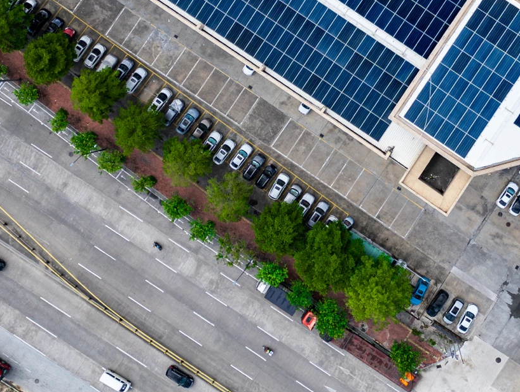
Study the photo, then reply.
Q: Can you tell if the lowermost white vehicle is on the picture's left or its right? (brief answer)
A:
left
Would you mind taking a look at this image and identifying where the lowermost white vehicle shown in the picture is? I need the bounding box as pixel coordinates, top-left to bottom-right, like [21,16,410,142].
[98,368,132,392]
